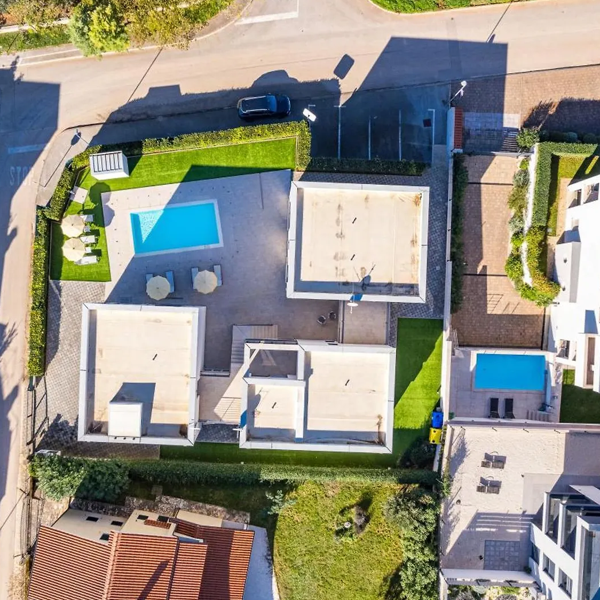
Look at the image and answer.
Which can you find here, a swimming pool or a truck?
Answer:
swimming pool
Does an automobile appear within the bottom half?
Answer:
No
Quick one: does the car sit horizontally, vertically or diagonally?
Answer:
horizontally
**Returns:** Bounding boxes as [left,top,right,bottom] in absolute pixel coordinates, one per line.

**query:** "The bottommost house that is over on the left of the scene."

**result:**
[21,500,254,600]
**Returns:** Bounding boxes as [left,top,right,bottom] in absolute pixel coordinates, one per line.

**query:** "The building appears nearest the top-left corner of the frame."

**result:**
[89,151,129,178]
